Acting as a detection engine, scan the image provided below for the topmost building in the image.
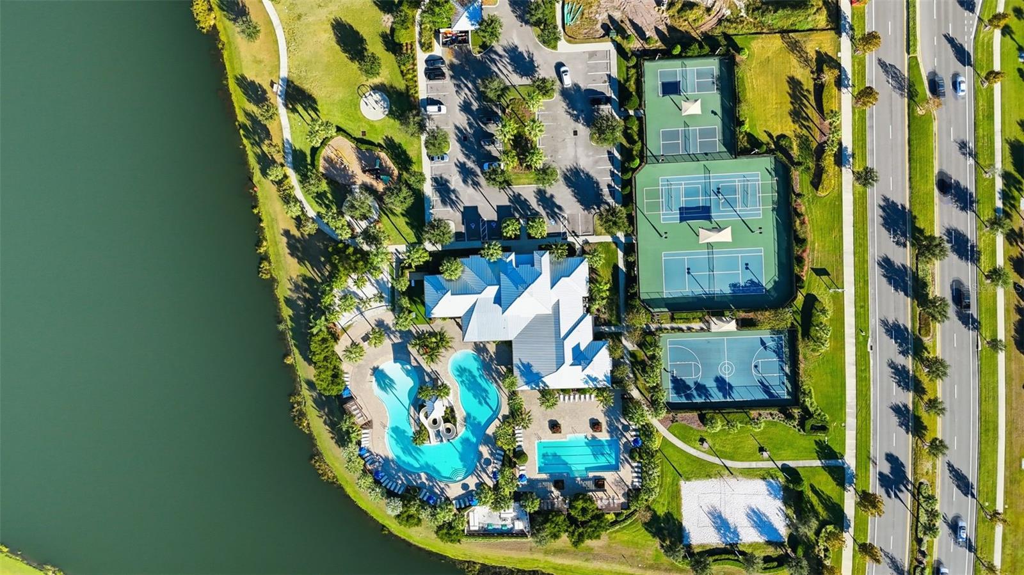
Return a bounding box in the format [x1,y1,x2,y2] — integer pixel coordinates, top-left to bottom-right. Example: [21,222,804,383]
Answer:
[439,0,482,48]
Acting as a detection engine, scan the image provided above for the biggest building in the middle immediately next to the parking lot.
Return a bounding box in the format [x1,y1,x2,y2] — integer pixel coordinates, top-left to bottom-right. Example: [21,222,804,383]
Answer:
[424,251,611,389]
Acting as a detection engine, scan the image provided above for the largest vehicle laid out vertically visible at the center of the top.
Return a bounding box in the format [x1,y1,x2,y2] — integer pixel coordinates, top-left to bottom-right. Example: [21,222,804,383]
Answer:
[560,65,572,87]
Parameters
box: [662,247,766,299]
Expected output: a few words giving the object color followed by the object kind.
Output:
blue tennis court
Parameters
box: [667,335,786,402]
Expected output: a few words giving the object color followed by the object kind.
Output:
blue basketball court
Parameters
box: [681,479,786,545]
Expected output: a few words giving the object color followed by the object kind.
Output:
white sports court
